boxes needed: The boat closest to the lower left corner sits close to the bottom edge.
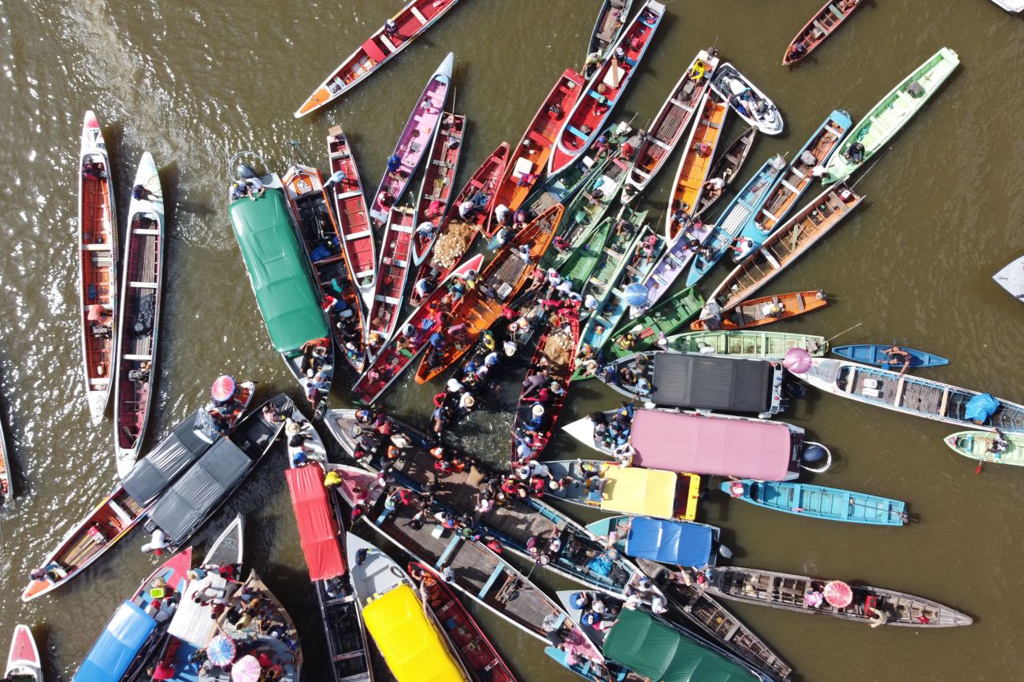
[7,622,49,682]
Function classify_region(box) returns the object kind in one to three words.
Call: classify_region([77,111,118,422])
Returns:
boat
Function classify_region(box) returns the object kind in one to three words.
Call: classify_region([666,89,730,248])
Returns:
boat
